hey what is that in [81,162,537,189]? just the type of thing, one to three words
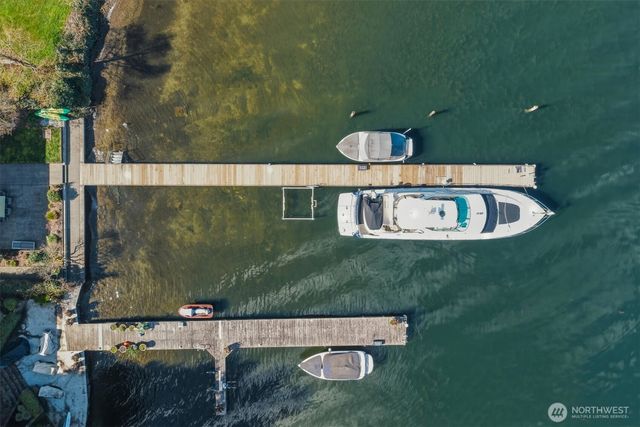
pier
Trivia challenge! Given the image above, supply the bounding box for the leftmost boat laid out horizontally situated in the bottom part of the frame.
[178,304,214,318]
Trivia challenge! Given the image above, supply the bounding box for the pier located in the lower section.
[63,312,408,416]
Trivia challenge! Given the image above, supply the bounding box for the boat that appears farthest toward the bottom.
[297,350,374,381]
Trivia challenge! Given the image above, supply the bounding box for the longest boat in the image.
[338,187,559,240]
